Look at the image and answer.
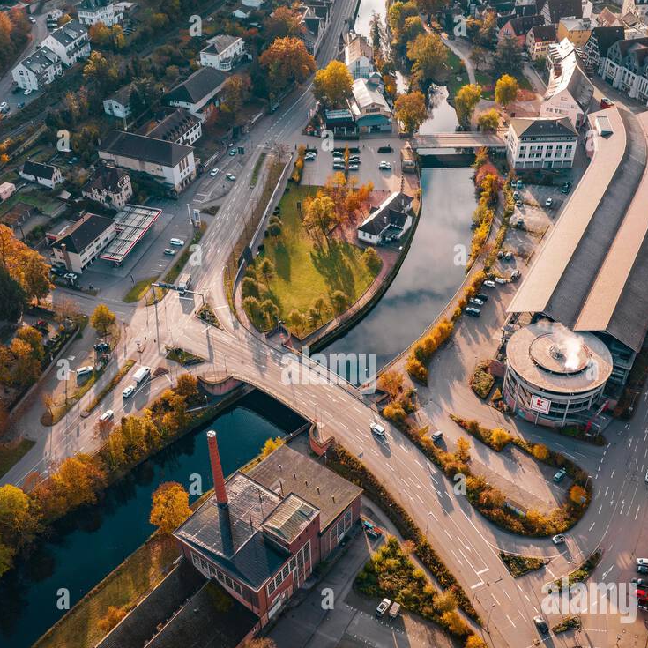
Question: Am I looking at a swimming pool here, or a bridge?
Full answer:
The image shows a bridge.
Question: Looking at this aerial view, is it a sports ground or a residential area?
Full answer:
The picture captures a residential area.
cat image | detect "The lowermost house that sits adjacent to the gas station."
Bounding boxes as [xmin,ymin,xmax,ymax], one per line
[38,212,129,283]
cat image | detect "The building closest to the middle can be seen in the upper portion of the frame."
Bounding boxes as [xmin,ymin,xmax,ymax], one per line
[339,192,424,255]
